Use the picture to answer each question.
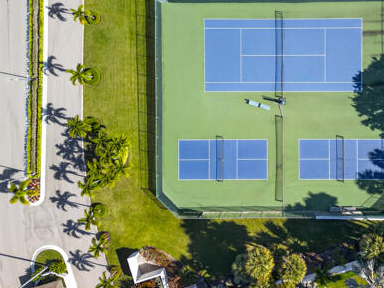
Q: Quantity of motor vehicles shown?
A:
0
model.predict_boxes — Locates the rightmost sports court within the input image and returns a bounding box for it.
[299,139,384,180]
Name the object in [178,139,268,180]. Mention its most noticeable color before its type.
blue sports court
